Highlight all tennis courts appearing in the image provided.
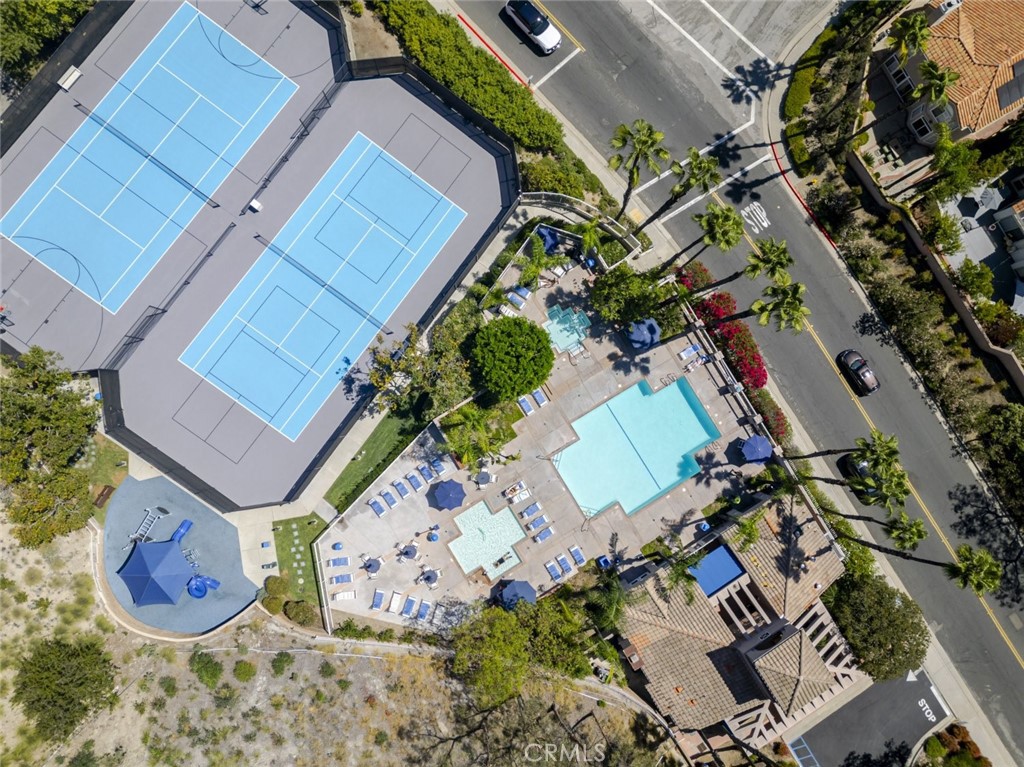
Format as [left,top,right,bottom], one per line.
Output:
[120,74,515,506]
[0,0,351,372]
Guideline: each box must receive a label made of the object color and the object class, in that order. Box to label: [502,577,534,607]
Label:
blue umbrella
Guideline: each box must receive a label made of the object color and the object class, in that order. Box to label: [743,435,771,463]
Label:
blue umbrella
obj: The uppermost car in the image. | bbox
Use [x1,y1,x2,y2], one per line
[506,0,559,53]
